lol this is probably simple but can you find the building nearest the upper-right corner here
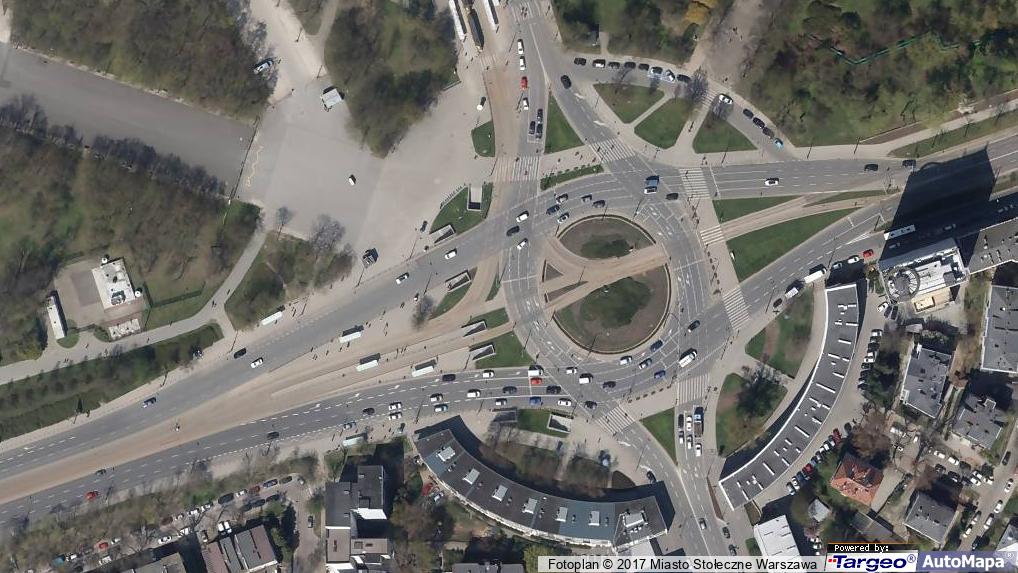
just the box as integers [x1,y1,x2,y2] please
[968,217,1018,276]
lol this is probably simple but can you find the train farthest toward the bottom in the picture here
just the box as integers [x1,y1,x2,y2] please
[467,8,484,49]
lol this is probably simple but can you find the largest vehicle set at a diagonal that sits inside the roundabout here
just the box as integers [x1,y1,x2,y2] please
[678,351,698,366]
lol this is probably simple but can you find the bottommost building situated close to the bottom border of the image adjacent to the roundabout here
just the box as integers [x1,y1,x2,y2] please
[417,430,667,546]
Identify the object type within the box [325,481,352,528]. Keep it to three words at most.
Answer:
building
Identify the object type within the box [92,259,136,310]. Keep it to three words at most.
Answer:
building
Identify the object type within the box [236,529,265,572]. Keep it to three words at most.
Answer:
house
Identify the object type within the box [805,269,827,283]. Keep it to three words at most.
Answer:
vehicle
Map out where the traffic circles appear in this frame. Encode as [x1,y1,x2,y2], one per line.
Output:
[502,158,735,420]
